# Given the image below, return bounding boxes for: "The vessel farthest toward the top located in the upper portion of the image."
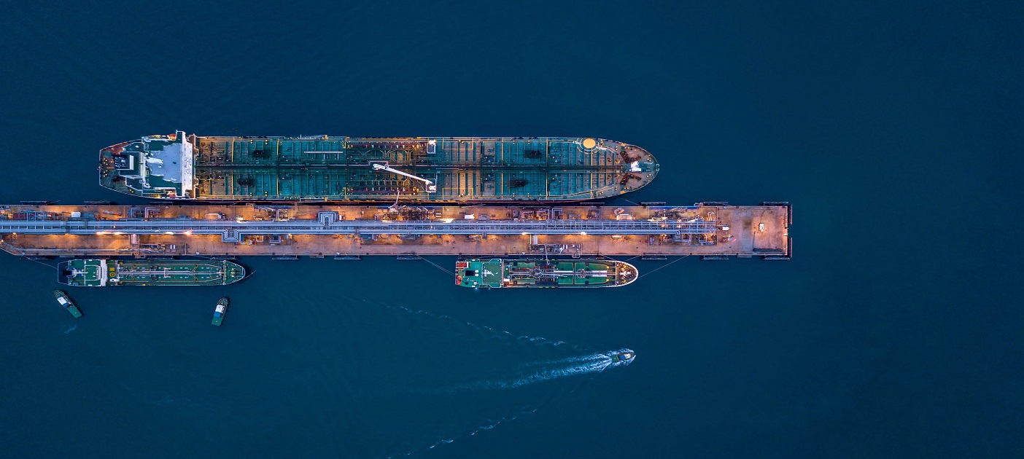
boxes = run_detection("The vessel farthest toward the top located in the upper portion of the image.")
[98,130,660,202]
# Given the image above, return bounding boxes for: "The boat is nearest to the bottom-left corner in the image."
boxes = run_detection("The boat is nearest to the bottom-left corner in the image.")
[55,291,81,319]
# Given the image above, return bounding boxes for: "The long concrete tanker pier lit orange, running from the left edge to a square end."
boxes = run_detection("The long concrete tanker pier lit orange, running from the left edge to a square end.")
[0,201,792,260]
